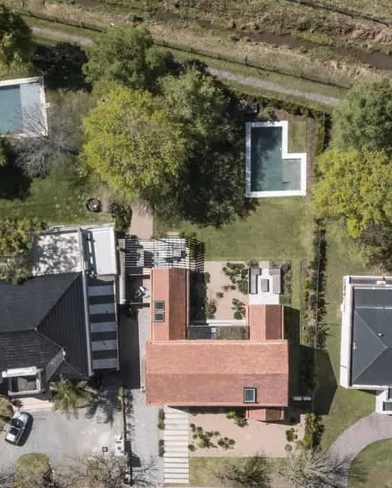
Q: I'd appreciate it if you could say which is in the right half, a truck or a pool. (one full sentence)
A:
You can see a pool in the right half.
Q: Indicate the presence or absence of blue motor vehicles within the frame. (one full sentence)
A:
No, the frame has no blue motor vehicle in it.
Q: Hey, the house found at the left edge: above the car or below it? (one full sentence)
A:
Within the scene, the house found at the left edge can be found above the car.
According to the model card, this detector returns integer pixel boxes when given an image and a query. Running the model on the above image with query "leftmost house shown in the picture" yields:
[0,226,124,396]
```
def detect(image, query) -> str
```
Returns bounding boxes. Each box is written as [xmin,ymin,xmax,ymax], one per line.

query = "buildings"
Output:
[0,226,124,396]
[339,277,392,414]
[146,268,289,419]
